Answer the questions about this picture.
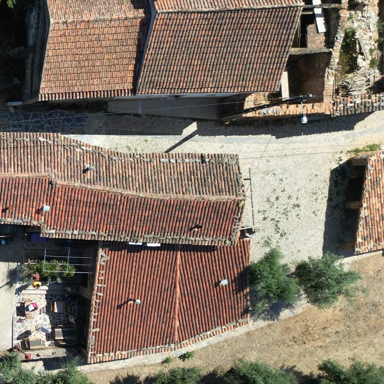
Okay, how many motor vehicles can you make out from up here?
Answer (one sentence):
Not a single motor vehicle can be seen.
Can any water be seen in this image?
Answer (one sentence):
No, water can't be seen anywhere here.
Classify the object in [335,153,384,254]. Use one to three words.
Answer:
barn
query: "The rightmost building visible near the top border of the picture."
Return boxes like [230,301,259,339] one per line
[311,0,384,122]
